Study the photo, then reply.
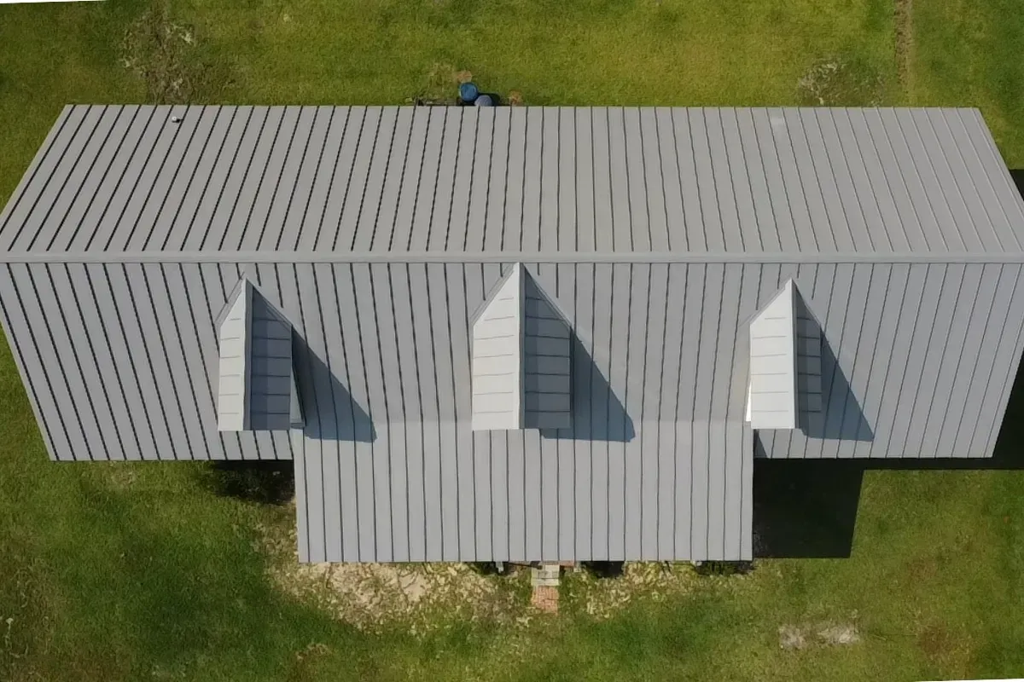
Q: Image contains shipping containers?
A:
No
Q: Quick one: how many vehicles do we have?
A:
0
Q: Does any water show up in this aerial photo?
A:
No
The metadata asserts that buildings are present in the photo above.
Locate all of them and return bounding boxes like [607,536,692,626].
[0,104,1024,565]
